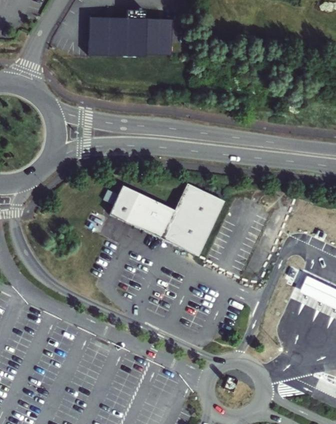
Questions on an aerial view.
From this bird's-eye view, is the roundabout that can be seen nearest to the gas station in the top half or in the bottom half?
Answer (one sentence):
The roundabout that can be seen nearest to the gas station is in the bottom half of the image.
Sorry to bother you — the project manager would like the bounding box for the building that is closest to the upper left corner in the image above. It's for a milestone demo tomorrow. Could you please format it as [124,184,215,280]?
[88,9,173,57]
